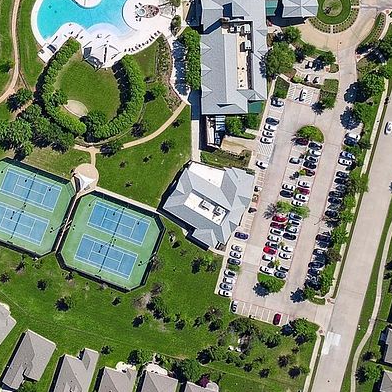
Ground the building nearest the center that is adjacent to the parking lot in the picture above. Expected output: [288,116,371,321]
[161,160,254,249]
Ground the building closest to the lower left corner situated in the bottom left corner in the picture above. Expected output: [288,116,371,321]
[4,328,55,392]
